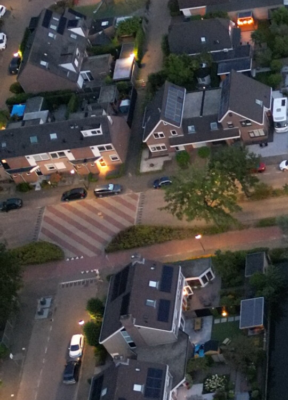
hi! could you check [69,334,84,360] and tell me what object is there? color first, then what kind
white car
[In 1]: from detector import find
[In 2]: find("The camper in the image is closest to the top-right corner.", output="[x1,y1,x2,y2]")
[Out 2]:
[273,97,288,131]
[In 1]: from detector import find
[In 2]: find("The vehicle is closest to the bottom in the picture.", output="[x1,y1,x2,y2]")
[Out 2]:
[62,358,81,387]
